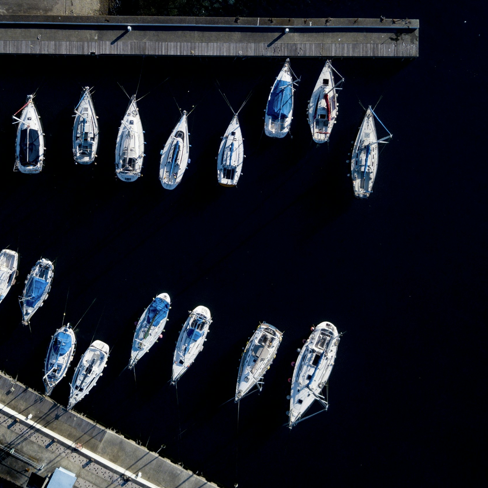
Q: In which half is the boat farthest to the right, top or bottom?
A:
top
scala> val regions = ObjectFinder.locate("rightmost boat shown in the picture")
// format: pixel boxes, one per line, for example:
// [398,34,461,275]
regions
[349,105,392,198]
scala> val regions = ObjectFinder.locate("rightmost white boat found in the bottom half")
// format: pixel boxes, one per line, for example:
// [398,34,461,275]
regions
[283,318,339,429]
